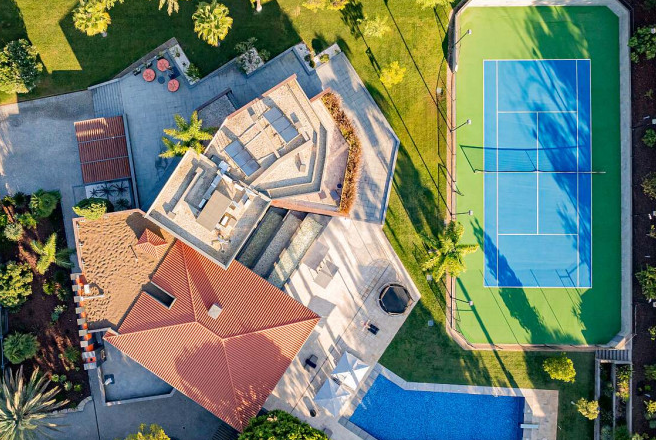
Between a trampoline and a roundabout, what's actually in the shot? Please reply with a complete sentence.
This aerial view contains a trampoline.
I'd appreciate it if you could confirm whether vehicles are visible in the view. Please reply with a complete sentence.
No, the frame has no vehicle in it.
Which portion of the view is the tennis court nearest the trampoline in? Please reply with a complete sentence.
The tennis court nearest the trampoline is in the right part of the image.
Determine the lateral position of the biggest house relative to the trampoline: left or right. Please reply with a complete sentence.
The biggest house appears to the left of the trampoline in this view.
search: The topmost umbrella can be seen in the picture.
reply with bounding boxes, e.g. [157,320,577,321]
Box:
[331,352,369,390]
